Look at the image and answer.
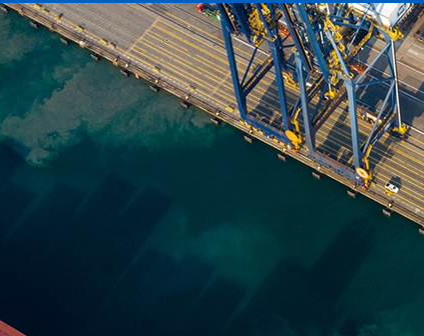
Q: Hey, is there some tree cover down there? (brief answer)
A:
No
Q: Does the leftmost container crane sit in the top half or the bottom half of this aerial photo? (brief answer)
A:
top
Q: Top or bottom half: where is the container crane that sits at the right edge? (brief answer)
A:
top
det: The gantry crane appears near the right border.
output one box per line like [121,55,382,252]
[273,0,411,185]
